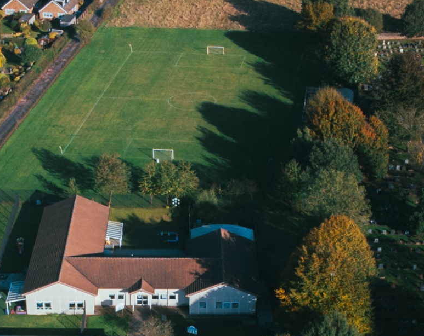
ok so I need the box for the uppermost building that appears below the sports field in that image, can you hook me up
[5,194,260,314]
